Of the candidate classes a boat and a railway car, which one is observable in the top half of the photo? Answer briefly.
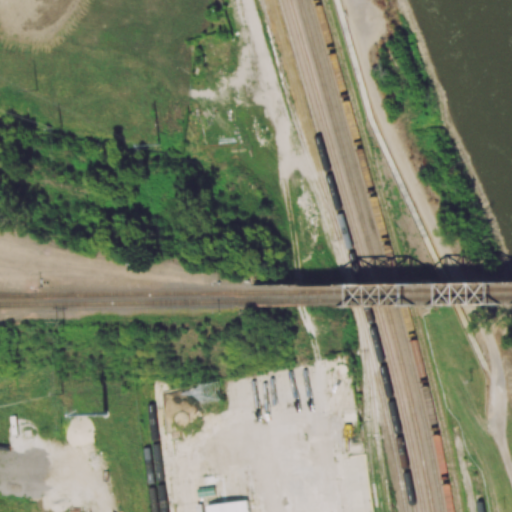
railway car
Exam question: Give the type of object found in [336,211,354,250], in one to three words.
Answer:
rail car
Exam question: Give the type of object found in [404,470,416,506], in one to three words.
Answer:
rail car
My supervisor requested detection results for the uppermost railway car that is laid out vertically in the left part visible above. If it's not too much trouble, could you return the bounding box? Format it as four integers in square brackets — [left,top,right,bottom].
[148,401,162,442]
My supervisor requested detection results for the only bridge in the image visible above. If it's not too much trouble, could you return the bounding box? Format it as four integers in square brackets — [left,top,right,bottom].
[249,282,512,308]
